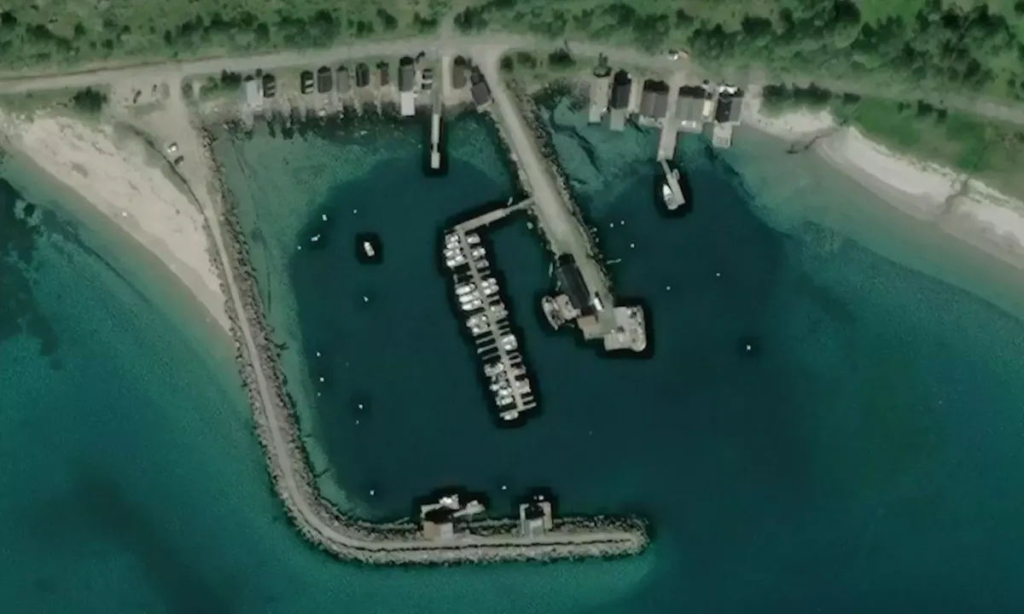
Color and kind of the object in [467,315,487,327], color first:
white boat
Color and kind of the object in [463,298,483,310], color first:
white boat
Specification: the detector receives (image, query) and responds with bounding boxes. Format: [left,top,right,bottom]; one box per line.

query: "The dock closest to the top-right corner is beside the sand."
[713,123,741,147]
